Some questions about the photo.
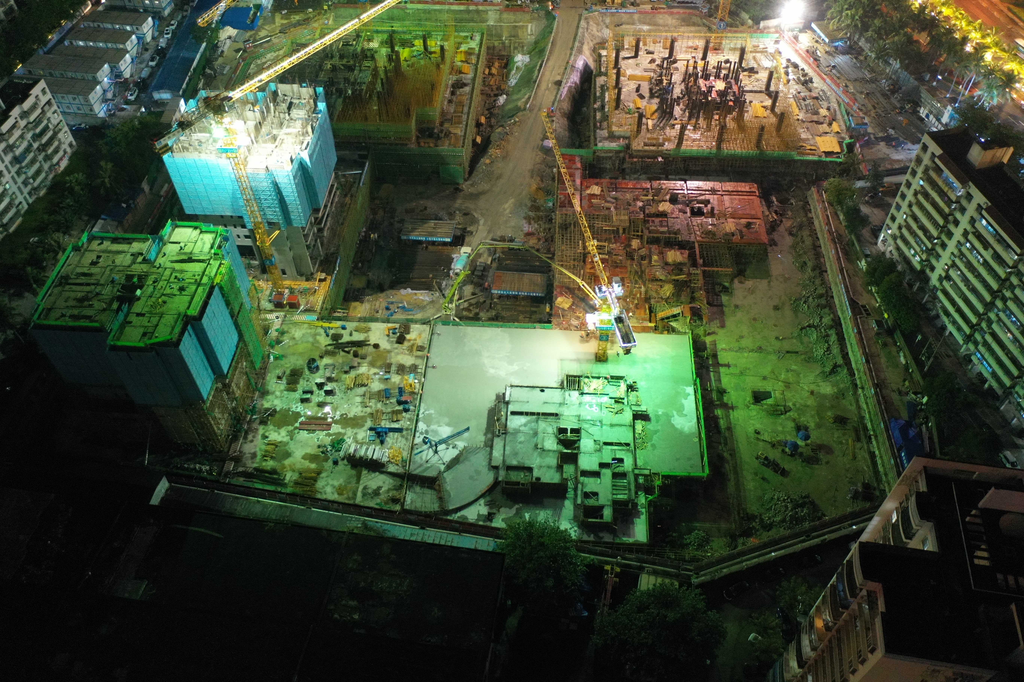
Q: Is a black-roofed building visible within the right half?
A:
Yes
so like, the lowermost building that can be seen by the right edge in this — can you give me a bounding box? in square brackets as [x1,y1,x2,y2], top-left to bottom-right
[762,453,1024,682]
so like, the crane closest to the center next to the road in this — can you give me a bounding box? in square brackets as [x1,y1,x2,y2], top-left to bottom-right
[544,117,643,385]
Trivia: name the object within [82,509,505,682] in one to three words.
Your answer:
building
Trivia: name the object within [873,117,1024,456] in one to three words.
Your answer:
building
